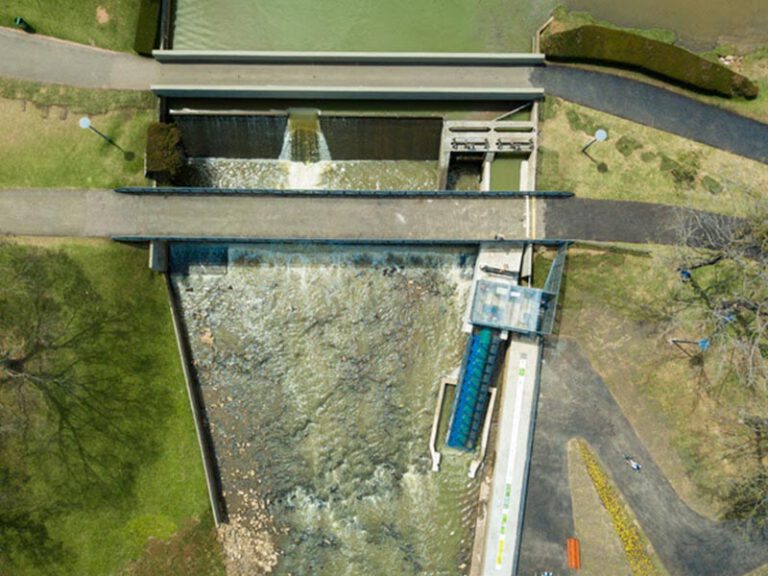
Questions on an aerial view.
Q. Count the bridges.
2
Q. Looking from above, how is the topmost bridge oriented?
from left to right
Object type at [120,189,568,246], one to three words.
bridge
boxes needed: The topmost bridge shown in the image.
[151,51,545,100]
